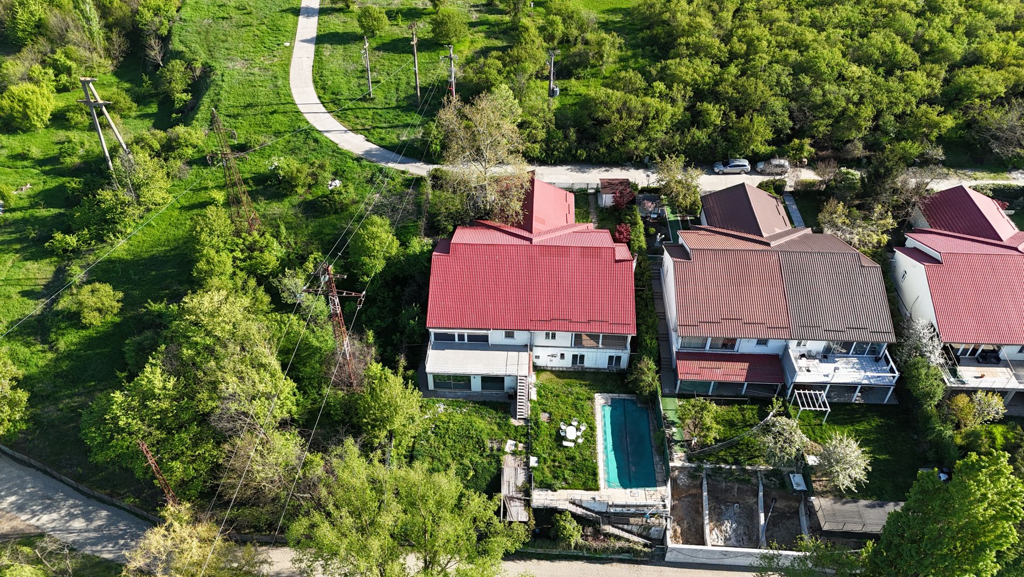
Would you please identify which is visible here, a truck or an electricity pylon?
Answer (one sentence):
The image shows an electricity pylon.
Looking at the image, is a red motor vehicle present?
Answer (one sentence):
No, the scene contains no red motor vehicle.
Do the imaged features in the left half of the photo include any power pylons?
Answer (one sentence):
Yes, a power pylon shows up in the left half of the photo.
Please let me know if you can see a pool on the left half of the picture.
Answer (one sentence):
No, I can find no pool on the left half of the picture.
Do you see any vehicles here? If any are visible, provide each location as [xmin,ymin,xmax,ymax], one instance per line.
[755,159,793,176]
[713,159,753,176]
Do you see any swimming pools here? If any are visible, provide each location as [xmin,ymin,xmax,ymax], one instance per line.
[595,392,668,492]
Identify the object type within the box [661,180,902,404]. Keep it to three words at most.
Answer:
house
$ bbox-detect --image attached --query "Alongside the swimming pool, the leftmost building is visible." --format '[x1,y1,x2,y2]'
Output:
[415,175,640,427]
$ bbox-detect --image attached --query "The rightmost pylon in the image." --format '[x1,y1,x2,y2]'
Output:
[304,263,364,378]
